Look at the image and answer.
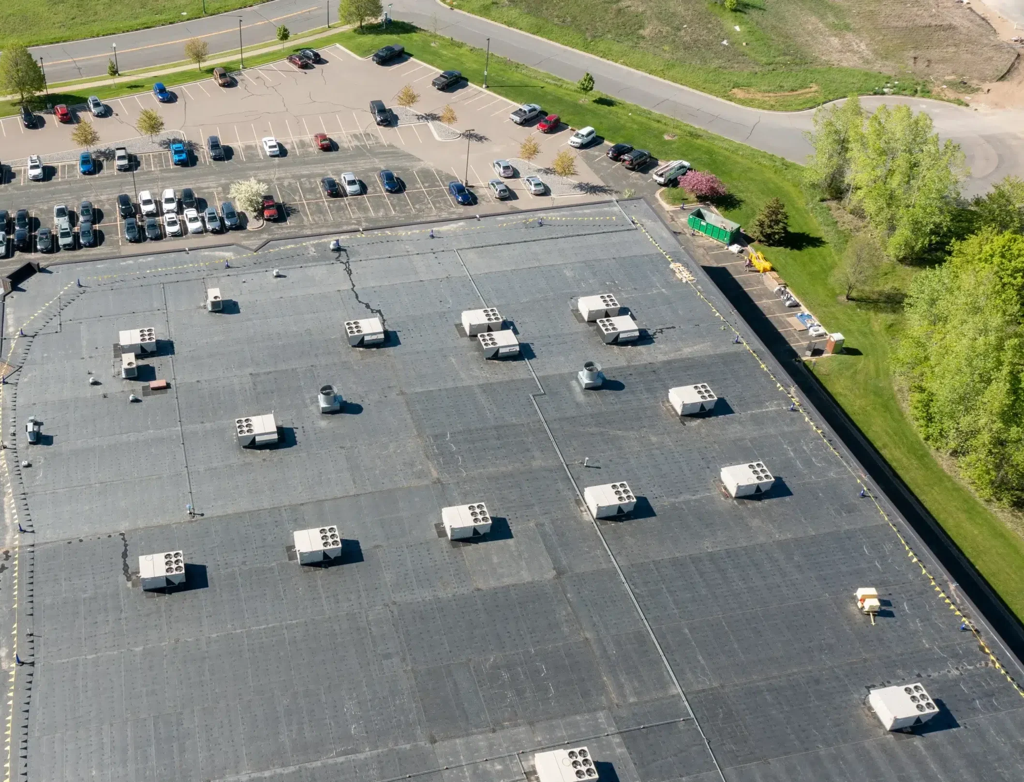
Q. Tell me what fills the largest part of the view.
buildings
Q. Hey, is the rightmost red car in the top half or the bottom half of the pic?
top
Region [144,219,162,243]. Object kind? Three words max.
car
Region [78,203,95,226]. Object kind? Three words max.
car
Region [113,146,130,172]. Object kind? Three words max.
vehicle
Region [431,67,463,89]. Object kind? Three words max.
truck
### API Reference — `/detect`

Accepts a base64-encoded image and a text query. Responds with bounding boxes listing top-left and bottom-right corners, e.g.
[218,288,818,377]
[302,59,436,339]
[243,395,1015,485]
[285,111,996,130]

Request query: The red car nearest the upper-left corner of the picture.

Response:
[54,105,71,123]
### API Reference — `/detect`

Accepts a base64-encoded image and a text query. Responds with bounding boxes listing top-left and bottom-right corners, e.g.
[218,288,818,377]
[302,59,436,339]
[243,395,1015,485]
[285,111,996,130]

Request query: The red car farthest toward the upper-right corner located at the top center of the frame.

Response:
[535,112,563,133]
